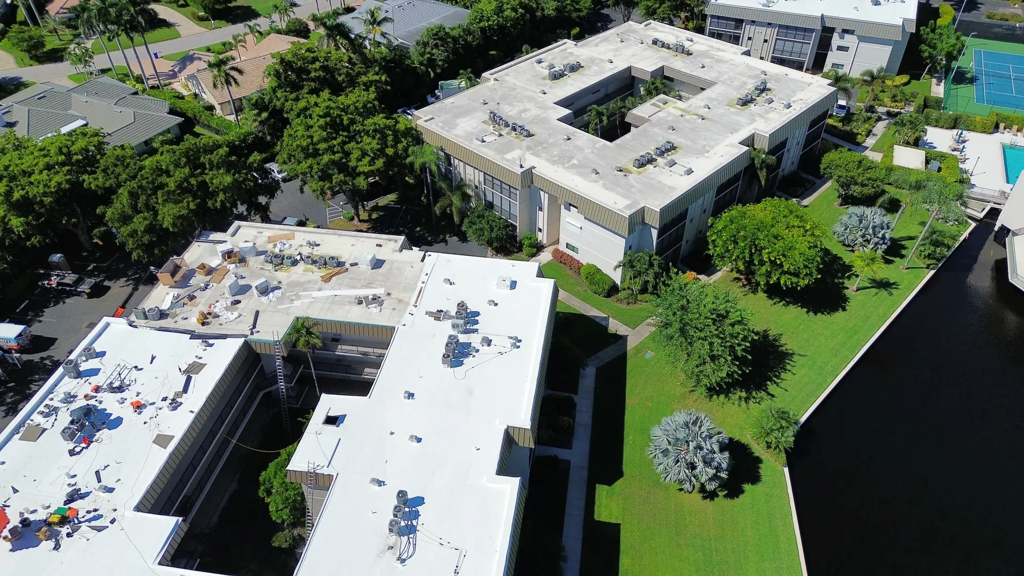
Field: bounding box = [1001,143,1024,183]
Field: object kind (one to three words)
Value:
swimming pool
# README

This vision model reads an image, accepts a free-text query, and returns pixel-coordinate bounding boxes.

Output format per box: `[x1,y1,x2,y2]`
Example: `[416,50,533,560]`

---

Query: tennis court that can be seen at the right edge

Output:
[945,38,1024,119]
